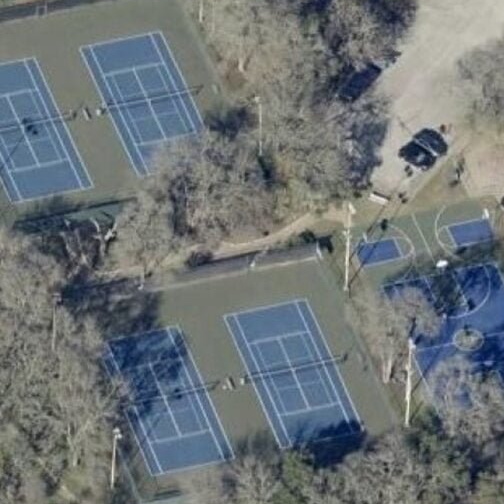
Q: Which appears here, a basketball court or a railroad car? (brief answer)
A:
basketball court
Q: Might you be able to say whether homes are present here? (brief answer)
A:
No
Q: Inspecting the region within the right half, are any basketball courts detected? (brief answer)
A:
Yes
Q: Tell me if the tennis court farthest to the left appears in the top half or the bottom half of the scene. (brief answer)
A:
top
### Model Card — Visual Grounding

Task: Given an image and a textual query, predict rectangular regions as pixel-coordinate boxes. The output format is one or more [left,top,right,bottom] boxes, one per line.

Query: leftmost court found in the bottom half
[95,324,235,475]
